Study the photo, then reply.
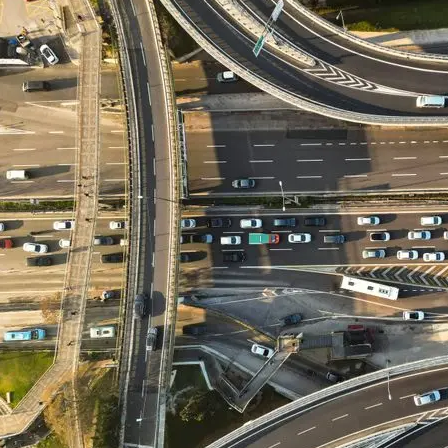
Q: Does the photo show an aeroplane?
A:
No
